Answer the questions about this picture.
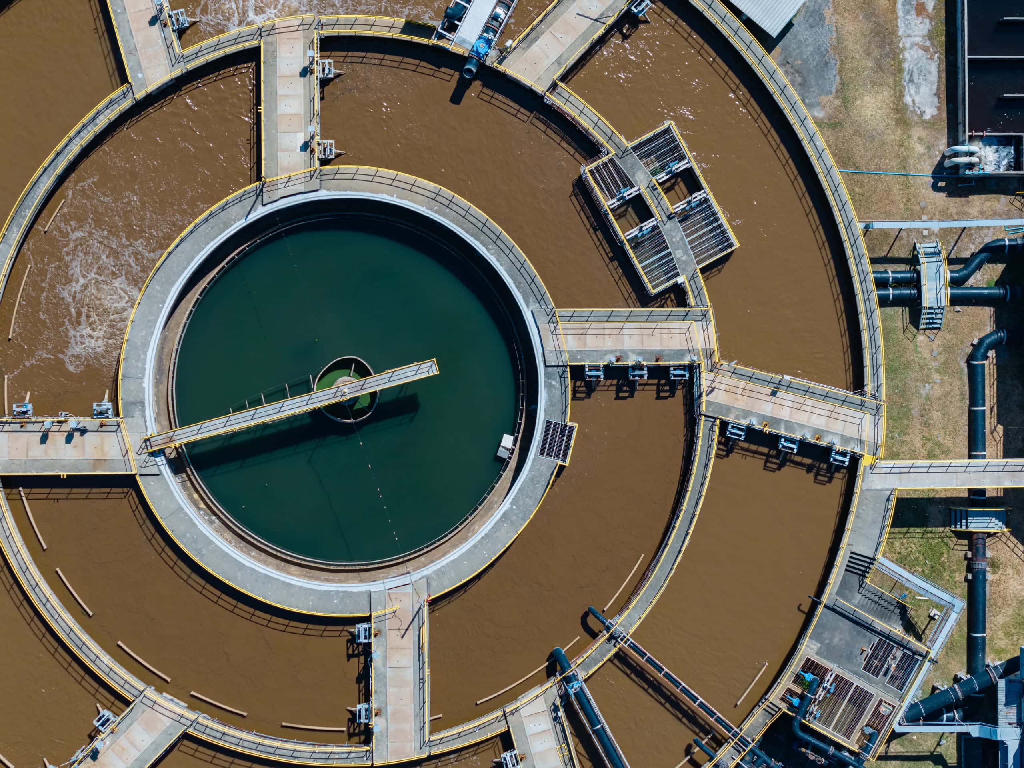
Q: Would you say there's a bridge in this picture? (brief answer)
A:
Yes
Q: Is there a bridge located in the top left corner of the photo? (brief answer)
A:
Yes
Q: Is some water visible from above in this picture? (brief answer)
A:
Yes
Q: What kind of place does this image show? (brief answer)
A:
industrial area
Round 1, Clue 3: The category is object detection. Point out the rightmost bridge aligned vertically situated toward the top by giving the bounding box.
[262,14,320,205]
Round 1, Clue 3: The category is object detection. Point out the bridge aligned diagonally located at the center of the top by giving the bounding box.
[492,0,634,94]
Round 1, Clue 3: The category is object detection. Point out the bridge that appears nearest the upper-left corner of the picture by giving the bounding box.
[109,0,185,98]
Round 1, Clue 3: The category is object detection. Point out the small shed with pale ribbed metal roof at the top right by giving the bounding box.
[722,0,805,39]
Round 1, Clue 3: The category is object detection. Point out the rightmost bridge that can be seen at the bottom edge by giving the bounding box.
[505,675,580,768]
